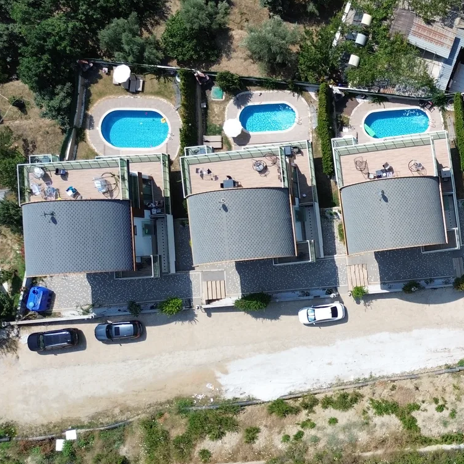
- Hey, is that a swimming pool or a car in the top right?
swimming pool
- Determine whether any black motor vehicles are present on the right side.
No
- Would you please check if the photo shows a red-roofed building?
No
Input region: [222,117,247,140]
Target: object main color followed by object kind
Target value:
white umbrella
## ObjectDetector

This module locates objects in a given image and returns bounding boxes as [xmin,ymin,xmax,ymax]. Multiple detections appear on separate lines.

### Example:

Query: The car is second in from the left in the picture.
[96,320,146,343]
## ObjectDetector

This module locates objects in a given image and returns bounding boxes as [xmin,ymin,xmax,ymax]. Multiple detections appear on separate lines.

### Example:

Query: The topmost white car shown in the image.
[299,302,347,327]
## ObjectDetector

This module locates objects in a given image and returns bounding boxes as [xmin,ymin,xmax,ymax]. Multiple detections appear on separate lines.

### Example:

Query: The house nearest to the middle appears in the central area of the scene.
[179,140,328,270]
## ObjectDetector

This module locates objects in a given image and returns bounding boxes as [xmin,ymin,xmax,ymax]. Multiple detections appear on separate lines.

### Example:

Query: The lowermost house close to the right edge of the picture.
[332,130,464,258]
